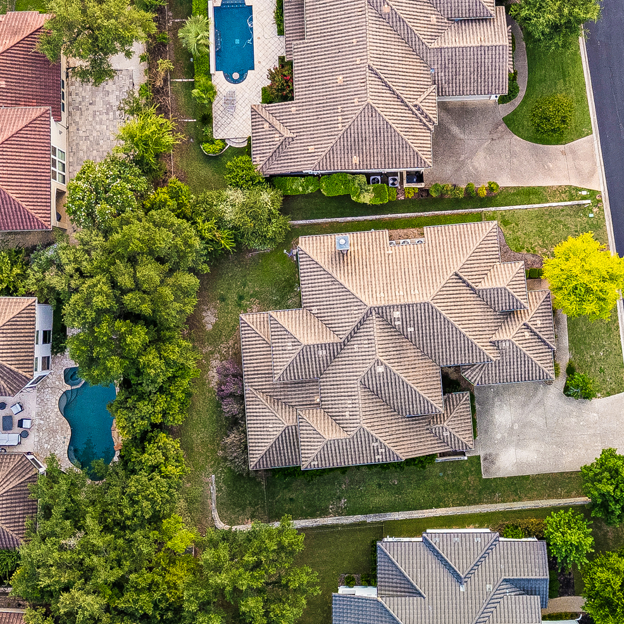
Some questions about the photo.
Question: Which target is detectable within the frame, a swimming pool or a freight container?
swimming pool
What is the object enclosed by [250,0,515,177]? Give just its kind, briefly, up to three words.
house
